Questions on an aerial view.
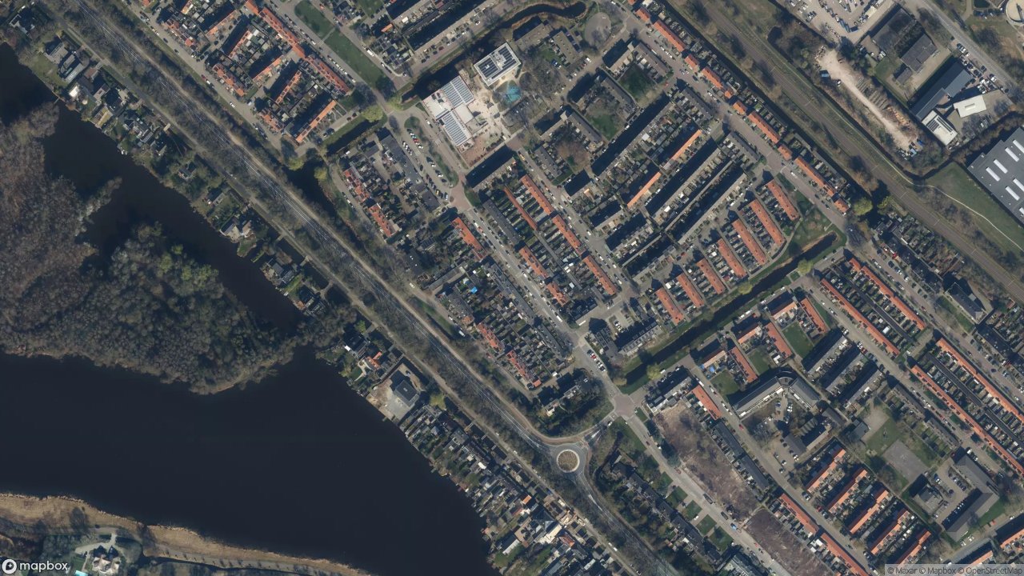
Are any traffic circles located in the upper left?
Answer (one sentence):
No, there is no traffic circle in the upper left.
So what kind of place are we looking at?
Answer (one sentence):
The picture captures a residential area.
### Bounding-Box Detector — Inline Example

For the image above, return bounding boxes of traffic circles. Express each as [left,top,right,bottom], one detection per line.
[552,444,585,477]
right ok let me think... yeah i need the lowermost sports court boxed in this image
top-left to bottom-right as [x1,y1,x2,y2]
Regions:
[882,441,928,482]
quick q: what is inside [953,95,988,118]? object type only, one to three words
building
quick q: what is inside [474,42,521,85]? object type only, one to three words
building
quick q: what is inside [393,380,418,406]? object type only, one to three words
house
